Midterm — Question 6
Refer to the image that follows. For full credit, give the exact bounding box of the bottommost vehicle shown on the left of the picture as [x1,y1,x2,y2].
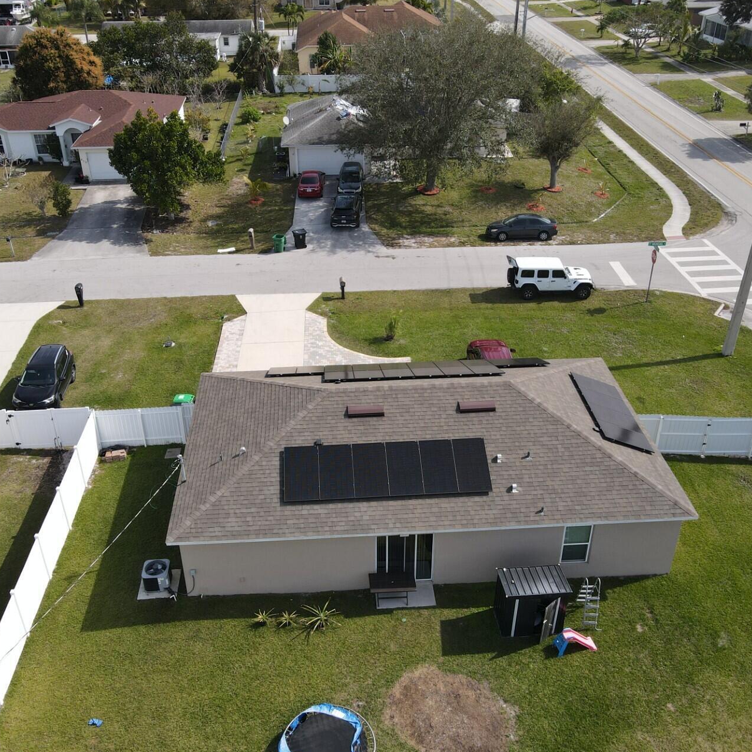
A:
[19,336,83,411]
